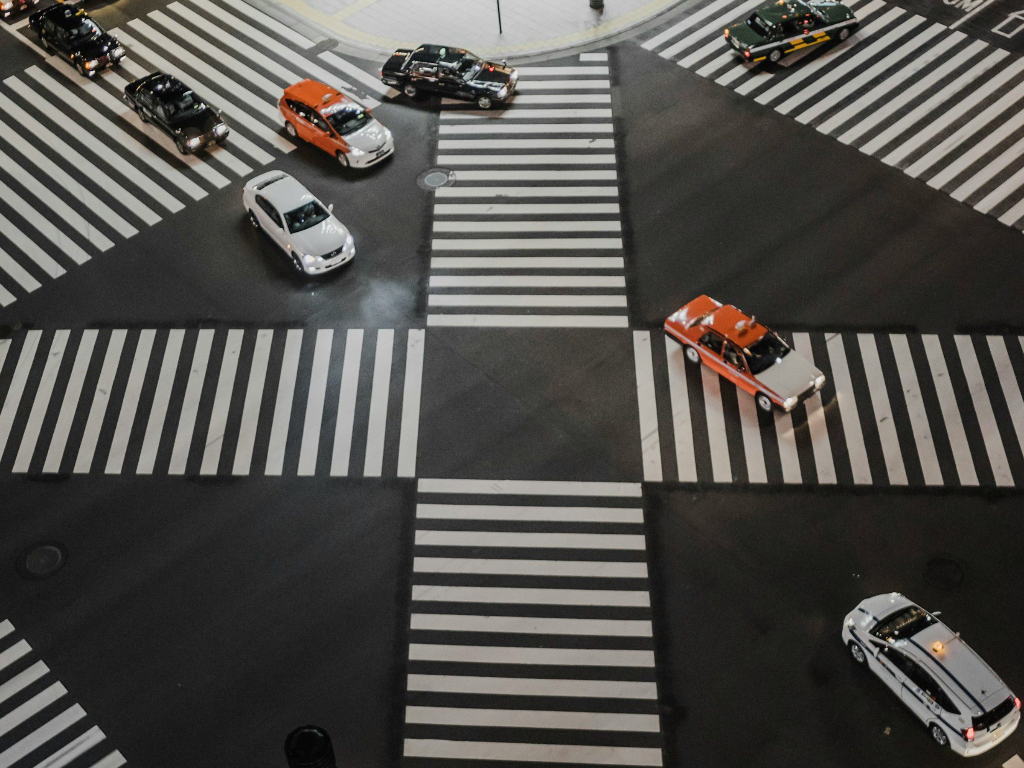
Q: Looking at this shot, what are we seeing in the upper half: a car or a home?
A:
car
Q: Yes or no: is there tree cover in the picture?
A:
No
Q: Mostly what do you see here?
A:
paved ground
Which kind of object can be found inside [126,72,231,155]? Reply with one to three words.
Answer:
car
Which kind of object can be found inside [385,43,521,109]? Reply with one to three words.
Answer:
car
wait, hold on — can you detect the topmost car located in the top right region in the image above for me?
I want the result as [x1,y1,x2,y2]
[727,0,858,64]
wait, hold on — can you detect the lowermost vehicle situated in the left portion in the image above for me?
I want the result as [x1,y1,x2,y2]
[241,171,354,275]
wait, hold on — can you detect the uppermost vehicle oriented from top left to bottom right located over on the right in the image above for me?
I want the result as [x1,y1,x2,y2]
[666,299,824,416]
